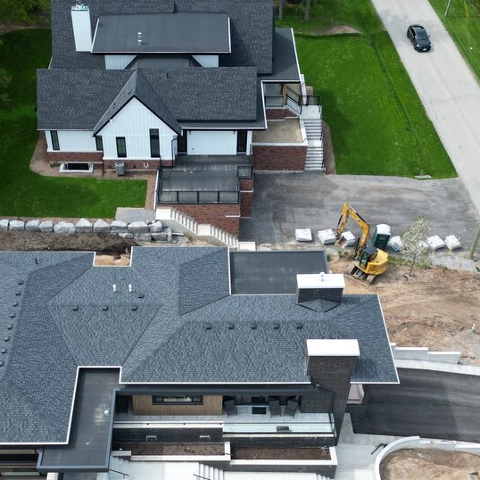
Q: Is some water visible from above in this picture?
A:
No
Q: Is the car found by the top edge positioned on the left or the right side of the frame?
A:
right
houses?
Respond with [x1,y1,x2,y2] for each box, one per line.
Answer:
[0,247,403,480]
[36,0,302,170]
